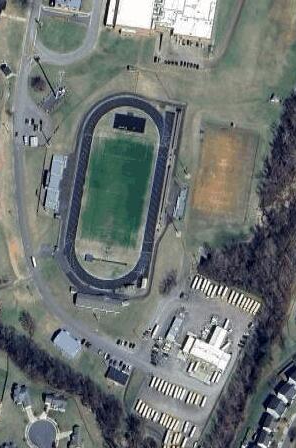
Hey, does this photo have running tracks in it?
Yes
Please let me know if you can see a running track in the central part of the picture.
Yes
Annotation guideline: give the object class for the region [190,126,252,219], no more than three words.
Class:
sports field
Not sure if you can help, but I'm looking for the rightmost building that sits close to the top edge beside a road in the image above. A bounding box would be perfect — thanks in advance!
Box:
[158,0,215,42]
